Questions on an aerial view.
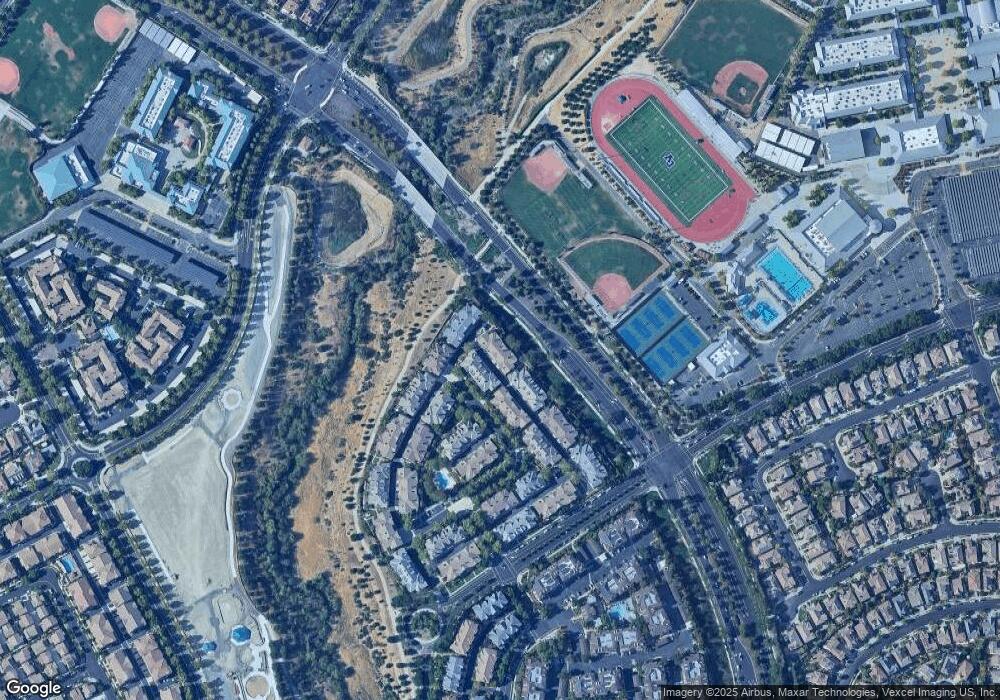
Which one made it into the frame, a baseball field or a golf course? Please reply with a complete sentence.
Looking from above, you can make out a baseball field.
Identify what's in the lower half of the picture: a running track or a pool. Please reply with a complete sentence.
Visible in the lower half of the picture is a pool.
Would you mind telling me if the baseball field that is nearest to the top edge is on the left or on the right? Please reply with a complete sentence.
The baseball field that is nearest to the top edge sits on the right side.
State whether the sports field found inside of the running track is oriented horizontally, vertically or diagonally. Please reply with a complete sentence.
The sports field found inside of the running track is laid out diagonally.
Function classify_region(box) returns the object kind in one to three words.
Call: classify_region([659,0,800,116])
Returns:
baseball field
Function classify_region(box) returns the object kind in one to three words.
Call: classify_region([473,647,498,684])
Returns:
building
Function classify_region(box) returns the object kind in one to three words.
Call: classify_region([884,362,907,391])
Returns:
house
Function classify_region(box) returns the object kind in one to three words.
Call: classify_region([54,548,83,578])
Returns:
swimming pool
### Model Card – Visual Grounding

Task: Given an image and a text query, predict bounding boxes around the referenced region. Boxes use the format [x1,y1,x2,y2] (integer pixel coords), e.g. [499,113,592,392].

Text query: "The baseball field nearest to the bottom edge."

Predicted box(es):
[561,233,669,314]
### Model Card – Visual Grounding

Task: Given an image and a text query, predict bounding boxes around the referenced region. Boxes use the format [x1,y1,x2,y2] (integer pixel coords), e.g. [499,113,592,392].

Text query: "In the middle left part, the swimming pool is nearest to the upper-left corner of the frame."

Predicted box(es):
[103,324,120,343]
